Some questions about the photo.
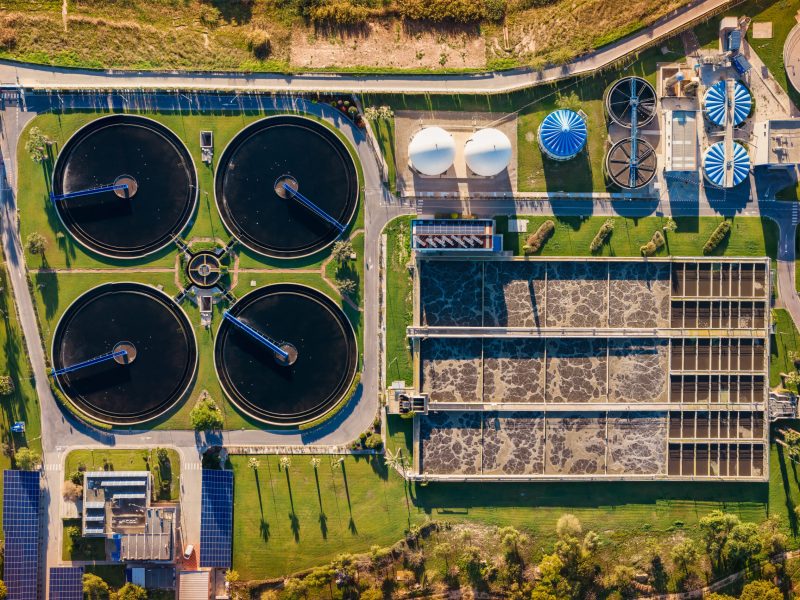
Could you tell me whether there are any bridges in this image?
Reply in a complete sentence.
Yes, there's a bridge down there.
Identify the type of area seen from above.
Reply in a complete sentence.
What you see here is an industrial area.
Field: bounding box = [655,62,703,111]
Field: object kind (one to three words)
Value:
building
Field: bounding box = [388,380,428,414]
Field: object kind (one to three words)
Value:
building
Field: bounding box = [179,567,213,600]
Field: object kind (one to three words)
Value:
shed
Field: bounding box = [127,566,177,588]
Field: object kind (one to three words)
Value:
shed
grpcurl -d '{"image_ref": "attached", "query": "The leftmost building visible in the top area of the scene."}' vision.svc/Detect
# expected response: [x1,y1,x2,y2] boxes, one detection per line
[412,220,512,256]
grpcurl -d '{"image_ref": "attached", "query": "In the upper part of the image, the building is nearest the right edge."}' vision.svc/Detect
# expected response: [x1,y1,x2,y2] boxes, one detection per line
[747,119,800,171]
